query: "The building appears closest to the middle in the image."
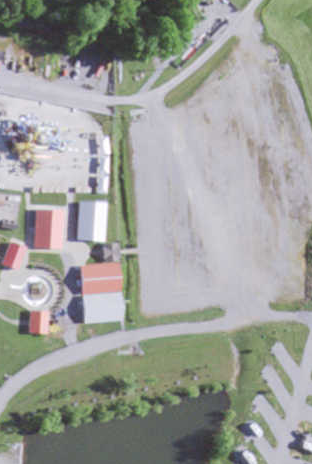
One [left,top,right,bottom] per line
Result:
[102,243,120,262]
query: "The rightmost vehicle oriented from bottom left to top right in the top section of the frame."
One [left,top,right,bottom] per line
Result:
[208,18,227,36]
